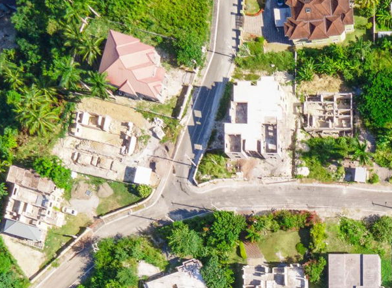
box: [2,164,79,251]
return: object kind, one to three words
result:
house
